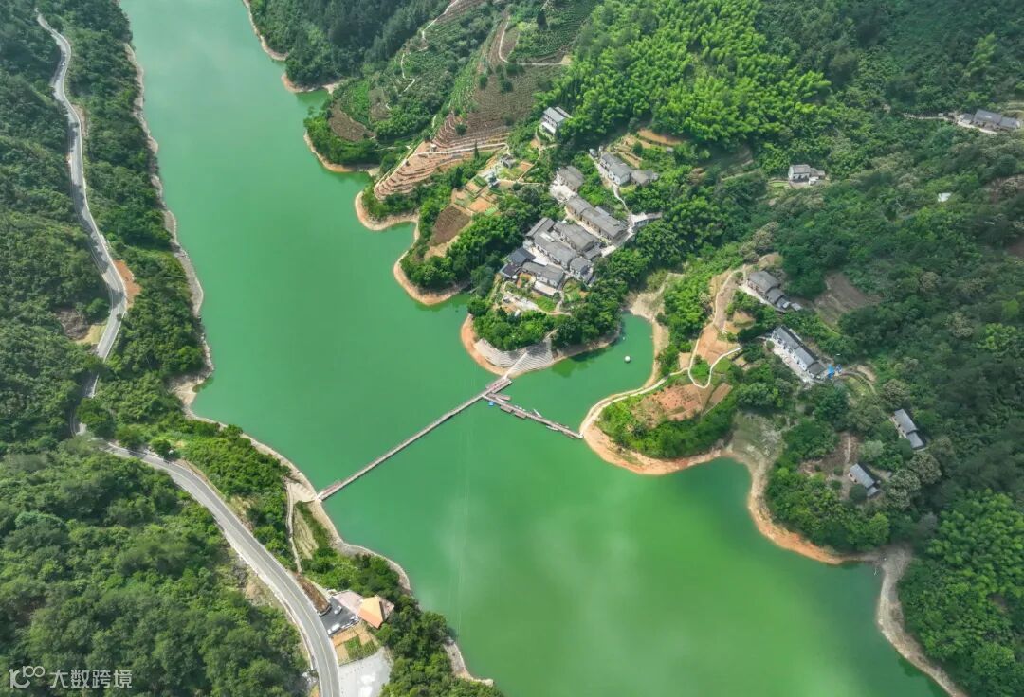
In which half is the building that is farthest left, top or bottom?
bottom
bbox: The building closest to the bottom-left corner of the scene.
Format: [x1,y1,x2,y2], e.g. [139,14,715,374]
[359,597,387,630]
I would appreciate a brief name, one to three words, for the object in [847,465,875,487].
house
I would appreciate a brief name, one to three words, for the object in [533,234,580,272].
house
